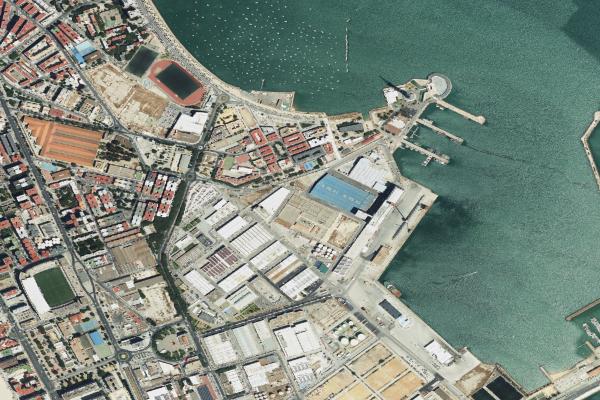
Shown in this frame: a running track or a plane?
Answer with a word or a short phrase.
running track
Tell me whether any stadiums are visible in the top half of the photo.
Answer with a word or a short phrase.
No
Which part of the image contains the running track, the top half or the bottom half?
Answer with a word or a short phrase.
top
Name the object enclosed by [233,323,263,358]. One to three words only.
building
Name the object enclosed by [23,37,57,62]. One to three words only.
building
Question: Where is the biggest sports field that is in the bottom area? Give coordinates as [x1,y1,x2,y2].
[34,268,75,307]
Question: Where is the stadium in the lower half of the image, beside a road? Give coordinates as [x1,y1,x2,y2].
[20,261,79,315]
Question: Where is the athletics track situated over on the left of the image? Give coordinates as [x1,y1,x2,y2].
[151,56,206,107]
